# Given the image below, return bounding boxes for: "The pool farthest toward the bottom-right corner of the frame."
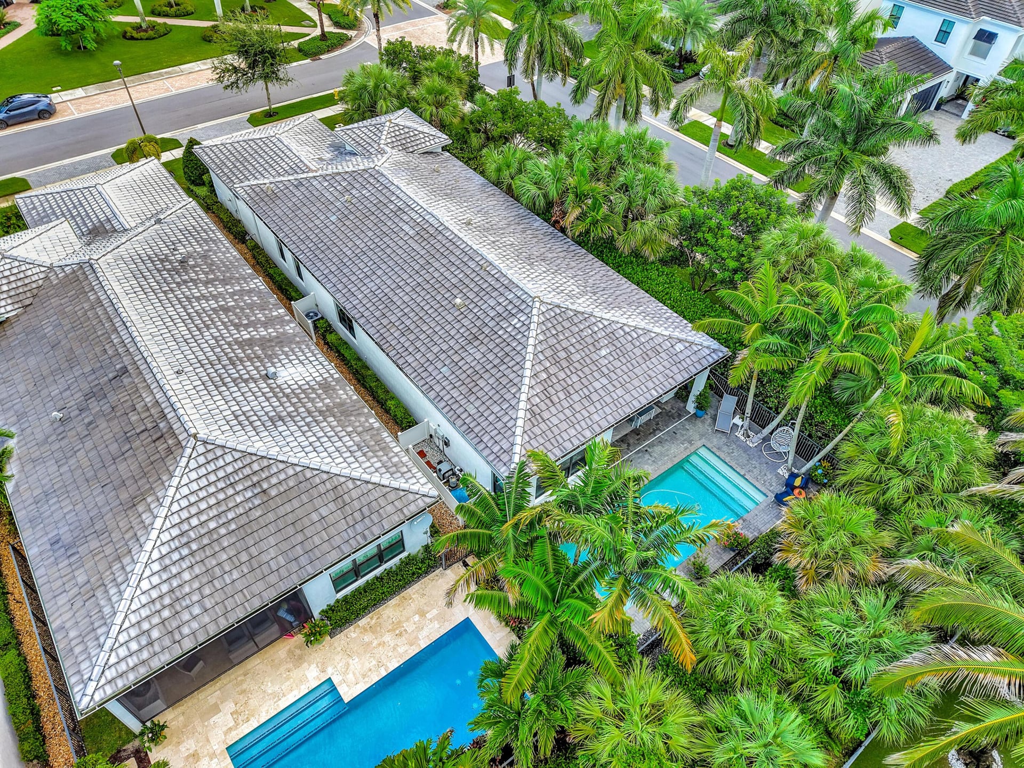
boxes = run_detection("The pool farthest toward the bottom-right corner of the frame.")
[555,444,769,620]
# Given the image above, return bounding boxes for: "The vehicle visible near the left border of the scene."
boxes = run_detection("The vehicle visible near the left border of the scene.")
[0,91,56,130]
